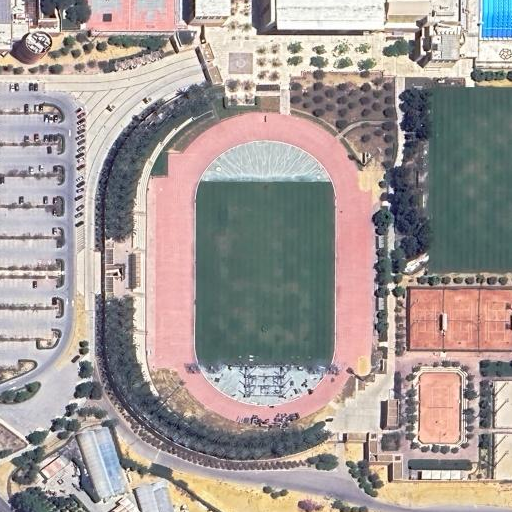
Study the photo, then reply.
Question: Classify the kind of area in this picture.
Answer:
sports ground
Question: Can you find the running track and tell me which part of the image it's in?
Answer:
center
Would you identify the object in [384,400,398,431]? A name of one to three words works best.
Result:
building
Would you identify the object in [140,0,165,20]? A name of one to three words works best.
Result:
basketball court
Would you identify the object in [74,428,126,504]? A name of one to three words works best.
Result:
building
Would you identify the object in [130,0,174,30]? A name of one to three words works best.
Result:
basketball court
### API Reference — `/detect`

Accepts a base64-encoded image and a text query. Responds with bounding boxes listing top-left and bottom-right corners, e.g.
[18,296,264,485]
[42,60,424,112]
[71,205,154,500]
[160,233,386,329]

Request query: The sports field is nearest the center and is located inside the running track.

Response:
[196,182,334,364]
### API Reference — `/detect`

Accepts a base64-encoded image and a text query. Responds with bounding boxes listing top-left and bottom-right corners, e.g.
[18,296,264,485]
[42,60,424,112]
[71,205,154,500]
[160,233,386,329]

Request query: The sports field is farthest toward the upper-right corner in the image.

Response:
[428,88,512,272]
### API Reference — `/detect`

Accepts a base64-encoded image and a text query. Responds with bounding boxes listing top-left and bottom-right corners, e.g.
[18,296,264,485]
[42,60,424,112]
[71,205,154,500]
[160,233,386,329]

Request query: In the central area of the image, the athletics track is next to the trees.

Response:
[147,112,372,424]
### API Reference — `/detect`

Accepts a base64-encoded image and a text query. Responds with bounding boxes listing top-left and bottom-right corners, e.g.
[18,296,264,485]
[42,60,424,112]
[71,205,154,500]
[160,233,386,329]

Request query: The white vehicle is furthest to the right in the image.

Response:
[404,257,428,273]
